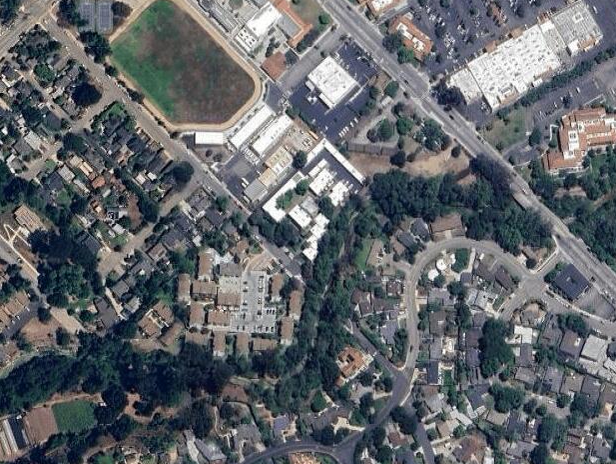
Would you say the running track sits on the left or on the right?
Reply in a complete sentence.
You can find the running track on the left side of the picture.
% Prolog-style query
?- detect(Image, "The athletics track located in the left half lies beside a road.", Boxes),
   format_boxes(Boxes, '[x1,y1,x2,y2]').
[104,0,262,131]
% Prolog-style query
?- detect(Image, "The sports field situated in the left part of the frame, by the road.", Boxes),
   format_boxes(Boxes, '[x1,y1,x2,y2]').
[104,0,262,131]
